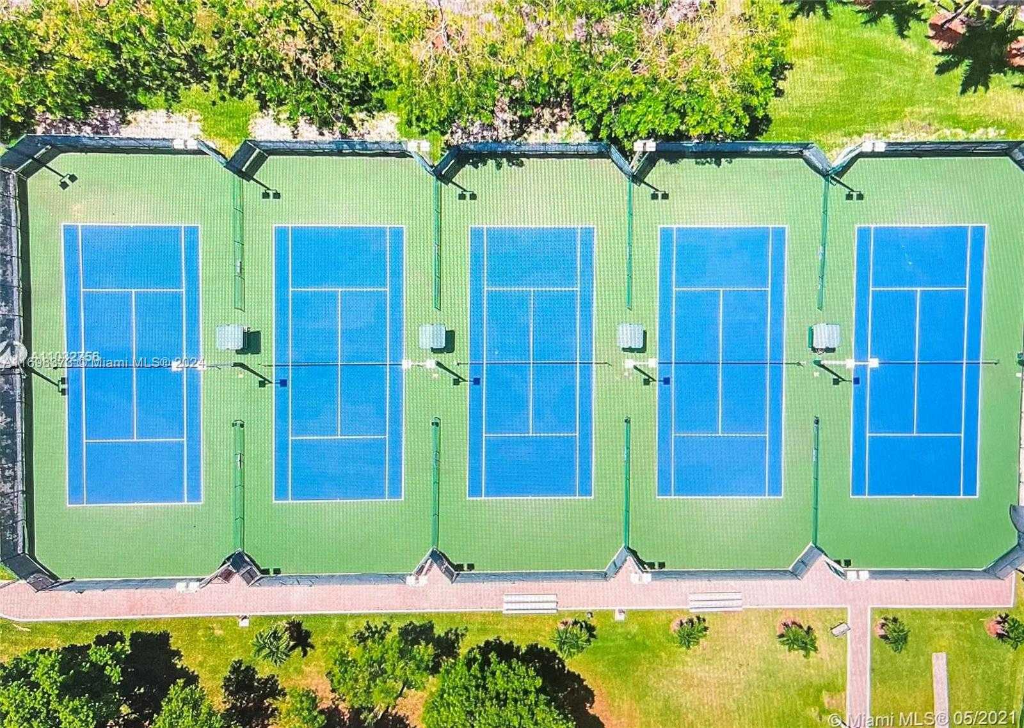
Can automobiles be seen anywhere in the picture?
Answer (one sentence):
No, no automobile is visible in the view.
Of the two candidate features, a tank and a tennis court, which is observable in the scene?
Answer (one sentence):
The one in the frame is a tennis court.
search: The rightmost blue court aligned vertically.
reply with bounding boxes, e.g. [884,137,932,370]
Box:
[851,223,988,498]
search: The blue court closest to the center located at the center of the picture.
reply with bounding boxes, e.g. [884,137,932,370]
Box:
[467,225,596,499]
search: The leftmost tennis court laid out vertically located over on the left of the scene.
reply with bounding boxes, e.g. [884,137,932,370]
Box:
[62,223,203,507]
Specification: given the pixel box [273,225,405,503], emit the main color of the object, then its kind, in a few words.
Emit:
blue tennis court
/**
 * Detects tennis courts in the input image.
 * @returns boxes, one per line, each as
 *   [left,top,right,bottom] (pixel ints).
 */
[851,223,988,498]
[273,225,405,503]
[467,225,596,499]
[62,223,203,507]
[657,225,788,498]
